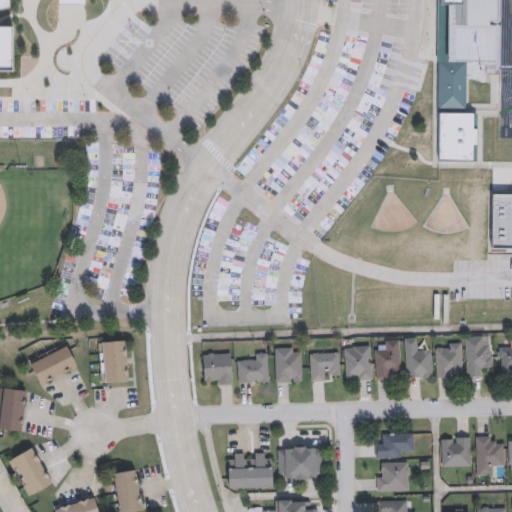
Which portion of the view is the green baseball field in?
left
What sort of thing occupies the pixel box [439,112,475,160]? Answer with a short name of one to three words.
building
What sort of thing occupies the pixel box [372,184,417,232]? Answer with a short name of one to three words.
baseball field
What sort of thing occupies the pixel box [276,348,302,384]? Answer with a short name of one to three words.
house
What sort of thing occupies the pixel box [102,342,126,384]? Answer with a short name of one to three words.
building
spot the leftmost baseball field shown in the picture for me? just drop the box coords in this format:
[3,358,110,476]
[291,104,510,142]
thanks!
[0,156,72,300]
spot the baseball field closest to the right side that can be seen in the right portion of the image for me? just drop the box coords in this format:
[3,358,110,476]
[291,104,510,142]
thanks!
[424,187,470,234]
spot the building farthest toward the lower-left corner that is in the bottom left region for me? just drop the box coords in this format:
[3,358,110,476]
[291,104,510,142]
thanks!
[8,450,52,498]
